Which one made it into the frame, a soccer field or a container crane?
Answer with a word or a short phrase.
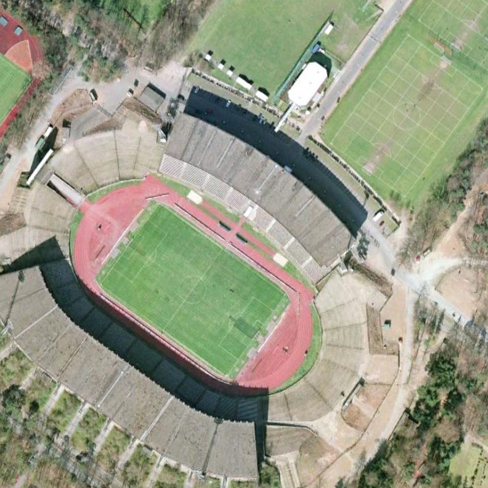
soccer field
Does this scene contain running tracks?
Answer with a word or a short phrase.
Yes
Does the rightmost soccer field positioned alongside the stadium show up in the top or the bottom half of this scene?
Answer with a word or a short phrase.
top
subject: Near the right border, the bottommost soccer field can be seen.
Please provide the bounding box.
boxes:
[332,35,482,197]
